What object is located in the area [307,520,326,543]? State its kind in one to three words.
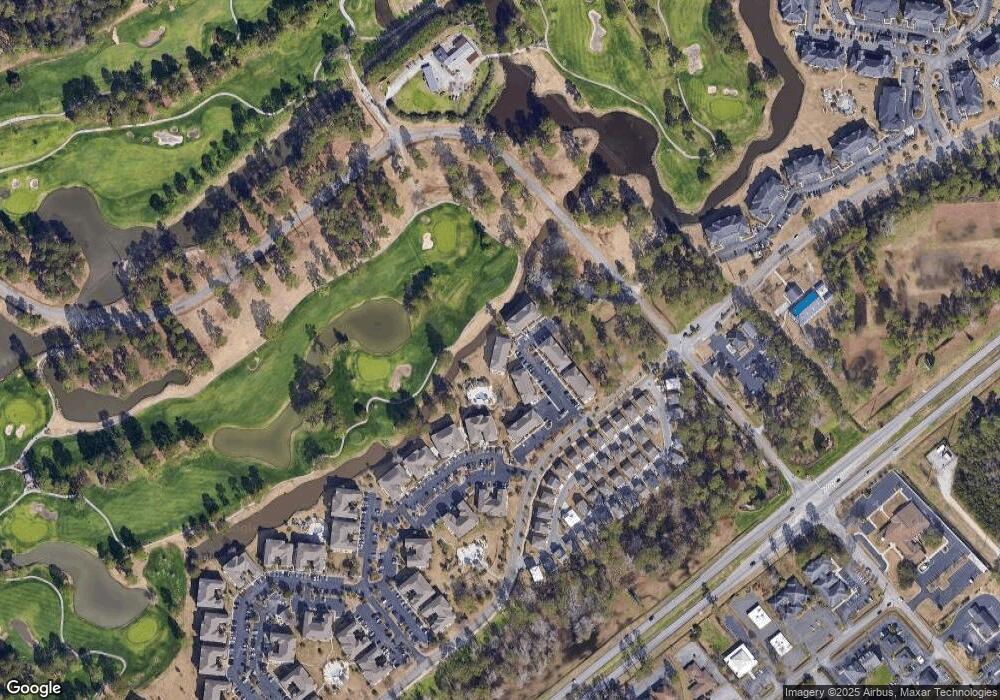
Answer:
swimming pool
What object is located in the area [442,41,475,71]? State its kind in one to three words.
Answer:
barn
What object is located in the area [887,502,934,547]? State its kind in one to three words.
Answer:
building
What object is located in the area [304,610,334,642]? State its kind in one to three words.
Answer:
building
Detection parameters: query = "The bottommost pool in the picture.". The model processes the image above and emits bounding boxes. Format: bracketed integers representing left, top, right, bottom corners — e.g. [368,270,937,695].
[323,661,349,685]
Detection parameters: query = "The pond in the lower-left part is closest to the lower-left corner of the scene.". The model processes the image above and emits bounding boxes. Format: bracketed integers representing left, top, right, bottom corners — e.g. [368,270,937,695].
[0,541,150,628]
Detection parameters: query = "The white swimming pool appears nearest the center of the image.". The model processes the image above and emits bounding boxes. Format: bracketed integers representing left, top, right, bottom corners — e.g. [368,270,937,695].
[466,386,496,407]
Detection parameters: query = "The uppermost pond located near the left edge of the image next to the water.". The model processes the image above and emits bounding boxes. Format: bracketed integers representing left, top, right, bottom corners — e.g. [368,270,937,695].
[37,186,226,306]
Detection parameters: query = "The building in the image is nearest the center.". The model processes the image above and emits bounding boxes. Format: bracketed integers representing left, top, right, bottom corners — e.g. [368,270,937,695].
[490,337,512,377]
